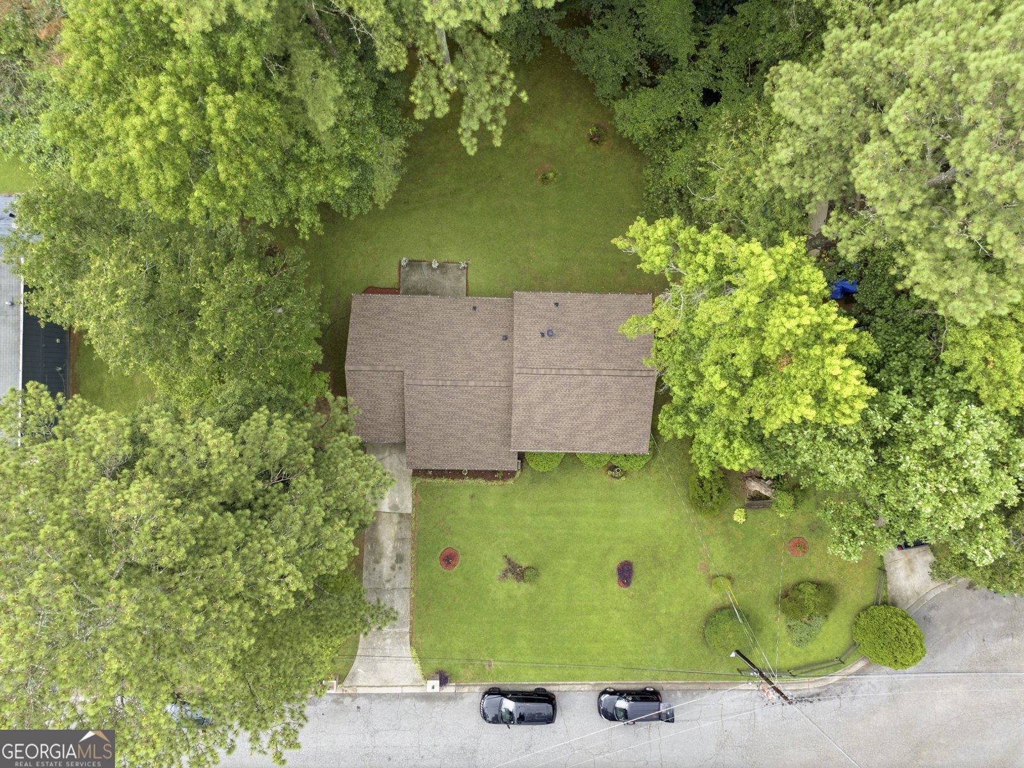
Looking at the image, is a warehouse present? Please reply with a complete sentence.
No, I can see no warehouse in this picture.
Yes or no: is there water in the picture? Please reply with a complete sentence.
No, the picture contains no water.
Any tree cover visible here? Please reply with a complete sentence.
Yes, there's tree cover in this view.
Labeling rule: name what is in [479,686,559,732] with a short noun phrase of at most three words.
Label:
car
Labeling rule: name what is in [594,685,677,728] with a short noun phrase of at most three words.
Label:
car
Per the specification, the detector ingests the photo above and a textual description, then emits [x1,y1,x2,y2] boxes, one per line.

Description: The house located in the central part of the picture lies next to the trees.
[344,289,656,473]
